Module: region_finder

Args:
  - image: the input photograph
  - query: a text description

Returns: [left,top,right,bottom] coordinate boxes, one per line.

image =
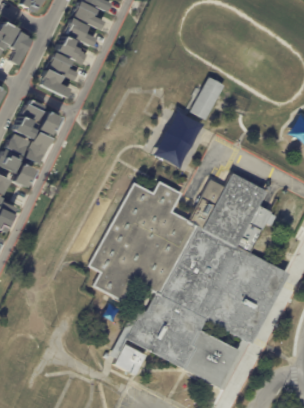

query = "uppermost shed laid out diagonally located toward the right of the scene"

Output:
[191,77,223,118]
